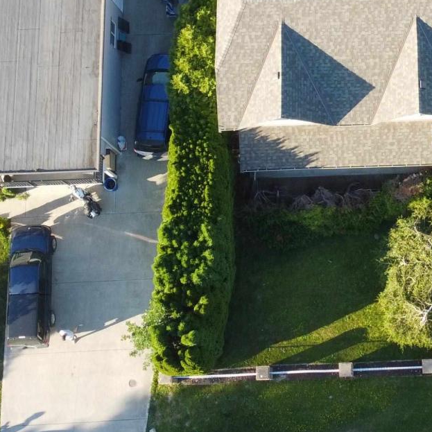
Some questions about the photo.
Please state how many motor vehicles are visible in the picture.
three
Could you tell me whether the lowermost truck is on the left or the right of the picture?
left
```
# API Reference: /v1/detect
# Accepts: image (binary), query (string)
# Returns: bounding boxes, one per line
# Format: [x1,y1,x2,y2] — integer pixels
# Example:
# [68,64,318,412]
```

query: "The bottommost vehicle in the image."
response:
[2,223,60,354]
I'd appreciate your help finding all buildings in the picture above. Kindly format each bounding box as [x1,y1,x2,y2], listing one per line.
[213,0,432,178]
[0,0,127,192]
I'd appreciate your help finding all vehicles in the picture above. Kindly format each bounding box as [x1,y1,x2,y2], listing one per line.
[135,54,183,166]
[2,223,60,354]
[73,187,106,224]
